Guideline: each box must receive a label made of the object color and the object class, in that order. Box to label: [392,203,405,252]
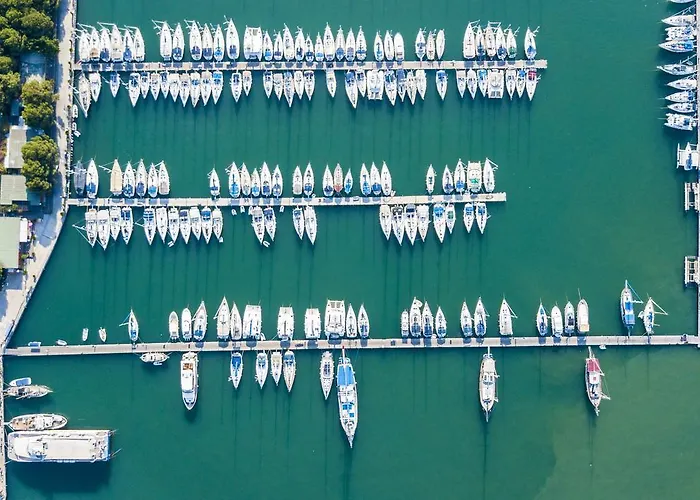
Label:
white boat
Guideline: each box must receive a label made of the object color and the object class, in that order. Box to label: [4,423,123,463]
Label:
white ship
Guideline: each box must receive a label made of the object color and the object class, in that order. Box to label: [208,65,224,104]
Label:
white boat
